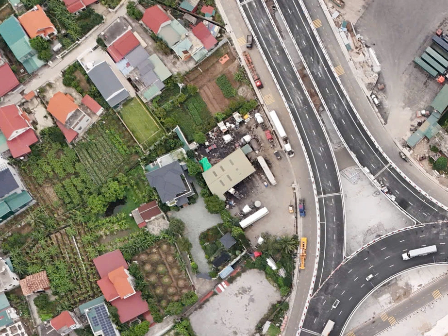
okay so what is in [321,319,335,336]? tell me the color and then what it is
white vehicle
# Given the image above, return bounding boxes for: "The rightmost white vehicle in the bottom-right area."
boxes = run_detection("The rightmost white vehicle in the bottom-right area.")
[401,244,438,261]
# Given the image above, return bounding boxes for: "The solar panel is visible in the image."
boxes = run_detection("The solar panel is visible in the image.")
[97,306,116,336]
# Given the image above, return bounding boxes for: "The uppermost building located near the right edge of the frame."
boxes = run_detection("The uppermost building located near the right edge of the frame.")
[431,83,448,116]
